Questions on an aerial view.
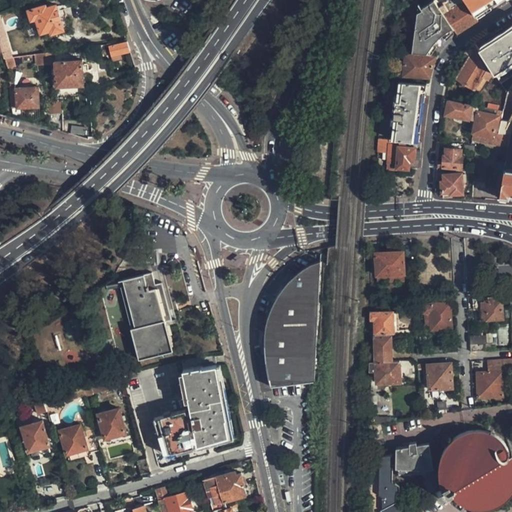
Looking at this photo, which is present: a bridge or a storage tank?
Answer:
bridge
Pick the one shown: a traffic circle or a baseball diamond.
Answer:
traffic circle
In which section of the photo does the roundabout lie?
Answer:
center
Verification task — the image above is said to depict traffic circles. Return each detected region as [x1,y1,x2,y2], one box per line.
[203,165,289,251]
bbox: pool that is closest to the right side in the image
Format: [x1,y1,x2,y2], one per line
[61,402,84,424]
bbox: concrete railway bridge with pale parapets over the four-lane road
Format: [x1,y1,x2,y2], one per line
[324,193,369,256]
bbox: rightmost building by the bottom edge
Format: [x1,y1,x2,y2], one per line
[434,426,512,512]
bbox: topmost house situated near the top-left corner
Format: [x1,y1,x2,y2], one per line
[25,5,66,37]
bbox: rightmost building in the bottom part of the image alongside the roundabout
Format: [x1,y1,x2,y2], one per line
[265,262,320,386]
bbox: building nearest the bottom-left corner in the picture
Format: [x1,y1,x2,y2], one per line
[19,420,52,456]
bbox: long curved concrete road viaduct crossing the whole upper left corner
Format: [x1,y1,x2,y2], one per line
[0,0,274,278]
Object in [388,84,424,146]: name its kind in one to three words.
building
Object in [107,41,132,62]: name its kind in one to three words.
house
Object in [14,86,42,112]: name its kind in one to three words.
house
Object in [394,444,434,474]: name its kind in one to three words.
building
